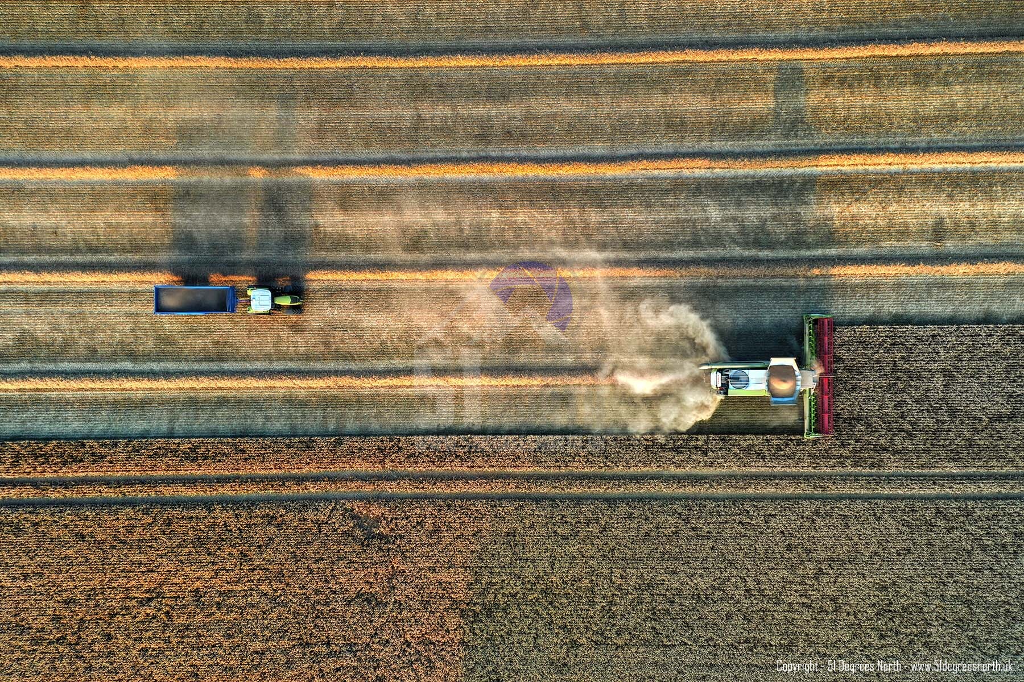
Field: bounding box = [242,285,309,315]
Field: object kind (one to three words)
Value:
work vehicle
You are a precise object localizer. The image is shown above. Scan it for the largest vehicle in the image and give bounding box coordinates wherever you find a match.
[690,314,834,438]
